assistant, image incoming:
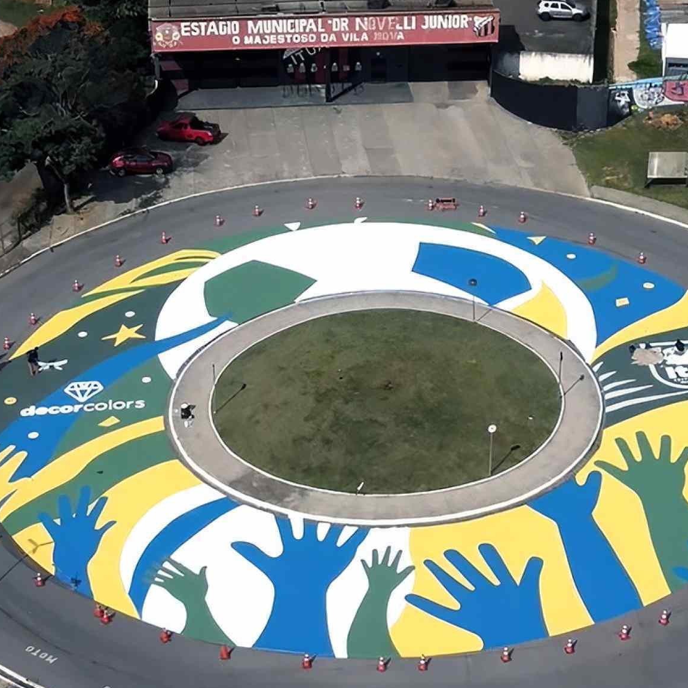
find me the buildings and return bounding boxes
[147,0,502,107]
[661,0,688,74]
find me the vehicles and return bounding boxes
[157,113,219,142]
[537,0,589,19]
[110,144,172,176]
